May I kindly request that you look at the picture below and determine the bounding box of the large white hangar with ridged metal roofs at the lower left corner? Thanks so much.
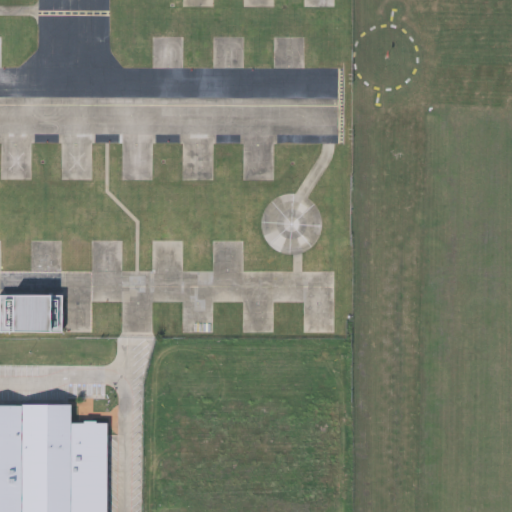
[0,405,72,512]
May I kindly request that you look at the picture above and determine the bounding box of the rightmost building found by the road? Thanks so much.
[72,421,108,512]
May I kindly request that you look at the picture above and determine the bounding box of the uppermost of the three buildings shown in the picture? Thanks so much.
[0,294,63,333]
